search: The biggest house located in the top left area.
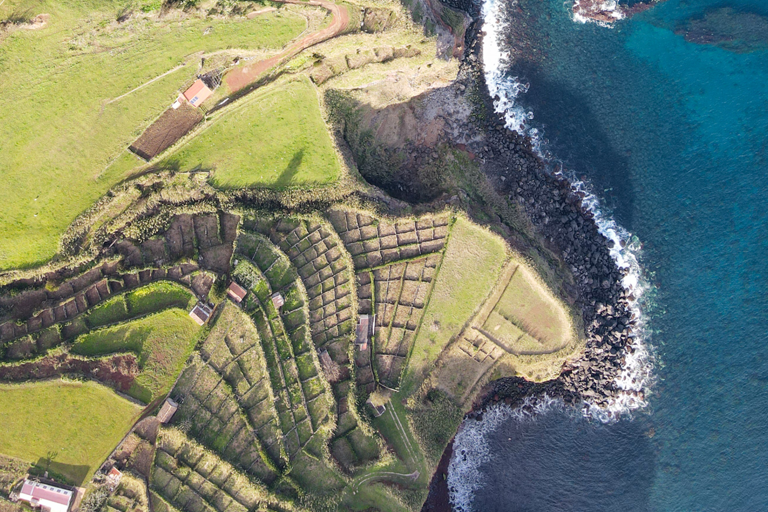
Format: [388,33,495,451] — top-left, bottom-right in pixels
[184,79,212,107]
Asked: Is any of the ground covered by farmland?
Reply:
Yes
